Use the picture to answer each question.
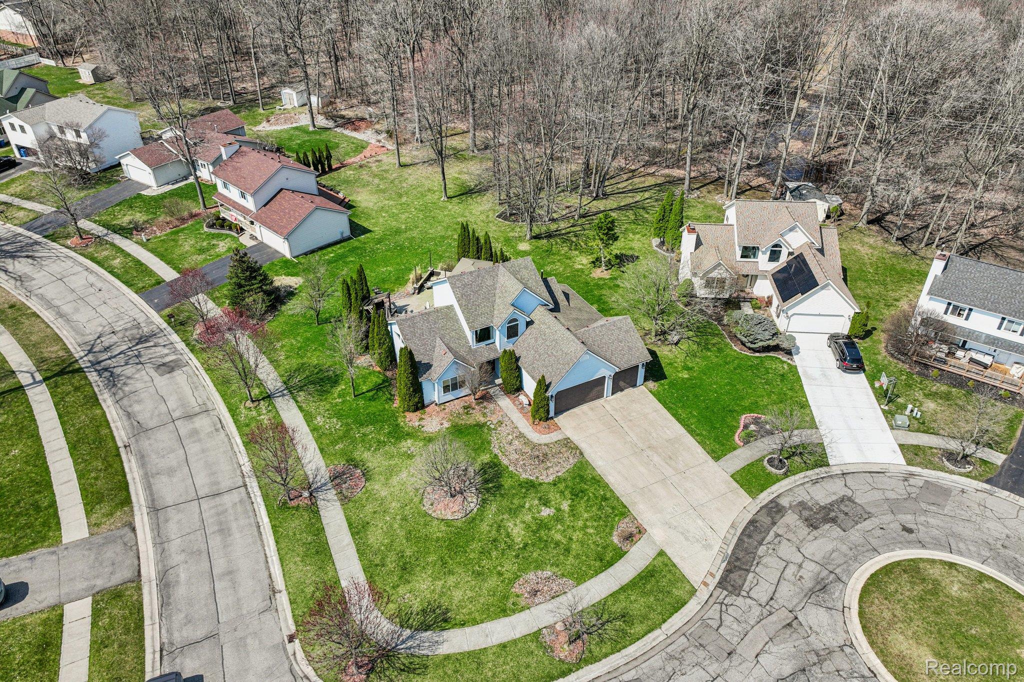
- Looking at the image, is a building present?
Yes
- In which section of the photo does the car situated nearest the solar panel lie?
right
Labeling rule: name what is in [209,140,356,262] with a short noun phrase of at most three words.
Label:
house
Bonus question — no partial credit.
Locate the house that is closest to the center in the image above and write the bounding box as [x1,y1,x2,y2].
[386,255,654,417]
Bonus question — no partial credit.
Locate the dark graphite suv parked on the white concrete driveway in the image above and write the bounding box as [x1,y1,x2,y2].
[828,336,867,371]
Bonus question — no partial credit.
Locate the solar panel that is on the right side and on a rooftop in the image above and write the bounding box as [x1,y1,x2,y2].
[770,253,818,304]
